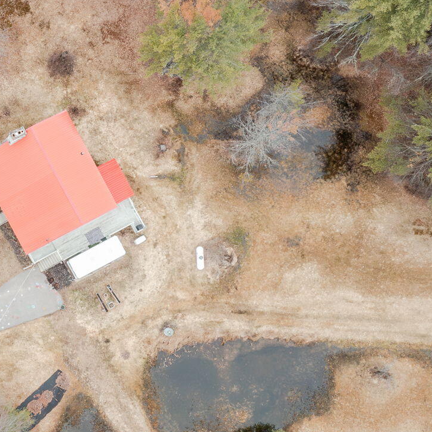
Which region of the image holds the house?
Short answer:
left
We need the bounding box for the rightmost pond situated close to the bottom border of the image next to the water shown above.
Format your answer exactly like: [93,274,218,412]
[145,339,432,432]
